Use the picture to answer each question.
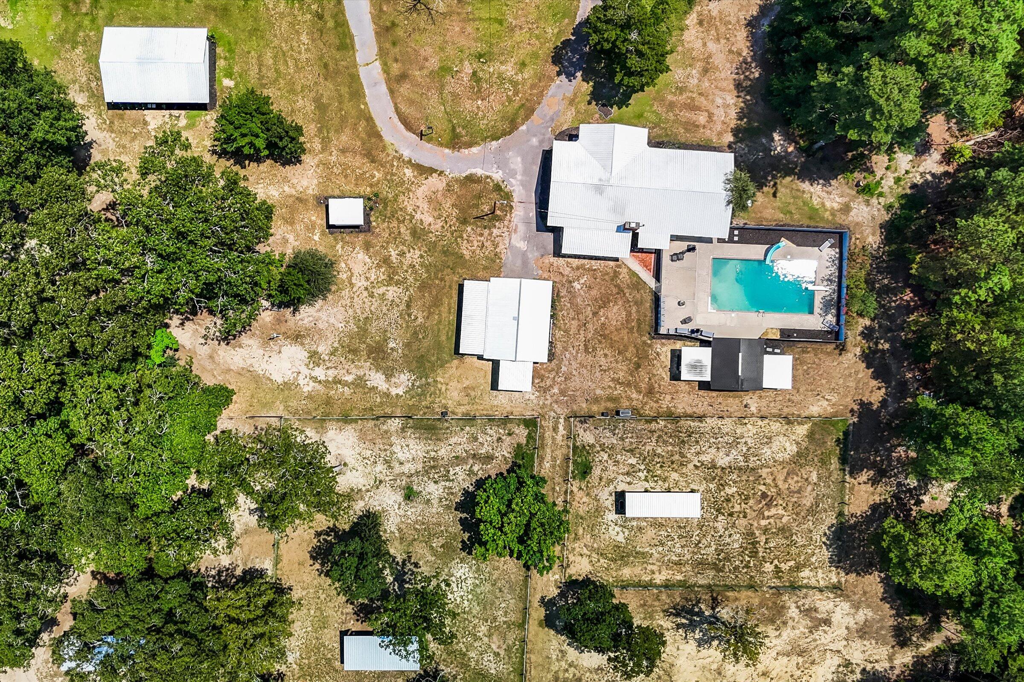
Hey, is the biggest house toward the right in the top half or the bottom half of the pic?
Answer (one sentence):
It is in the top half that the biggest house toward the right appears.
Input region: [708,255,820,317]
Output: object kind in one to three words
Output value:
swimming pool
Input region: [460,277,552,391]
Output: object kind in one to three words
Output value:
building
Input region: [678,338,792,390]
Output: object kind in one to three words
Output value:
building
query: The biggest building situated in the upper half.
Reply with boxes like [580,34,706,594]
[547,124,734,258]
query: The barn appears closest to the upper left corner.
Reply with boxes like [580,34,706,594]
[99,27,214,106]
